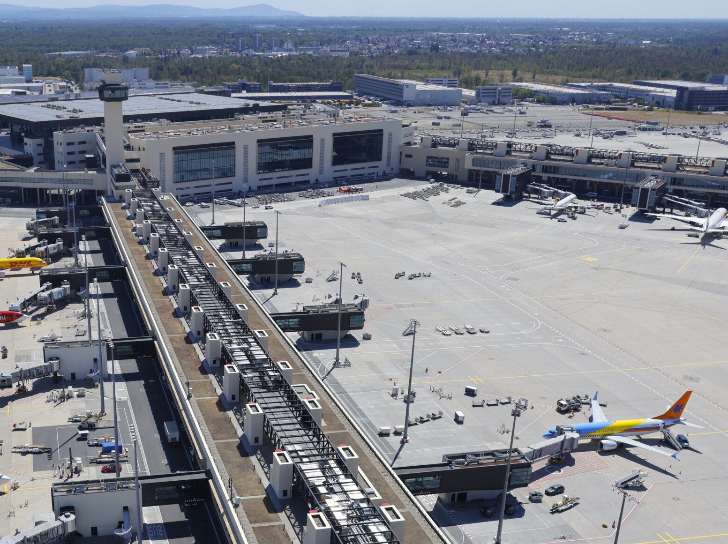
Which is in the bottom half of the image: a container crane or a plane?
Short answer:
plane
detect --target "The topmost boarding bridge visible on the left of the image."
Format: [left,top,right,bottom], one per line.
[22,215,57,234]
